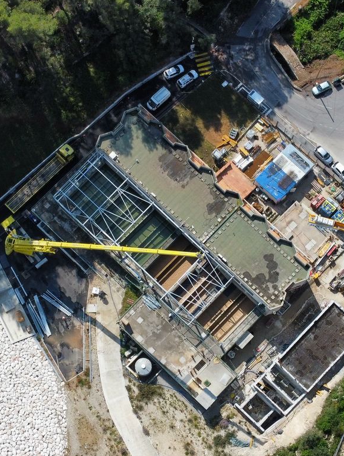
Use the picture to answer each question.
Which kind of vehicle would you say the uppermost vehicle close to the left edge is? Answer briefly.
truck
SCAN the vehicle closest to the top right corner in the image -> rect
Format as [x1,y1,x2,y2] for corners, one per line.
[310,79,334,97]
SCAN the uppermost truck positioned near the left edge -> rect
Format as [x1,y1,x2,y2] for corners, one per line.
[6,138,79,213]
